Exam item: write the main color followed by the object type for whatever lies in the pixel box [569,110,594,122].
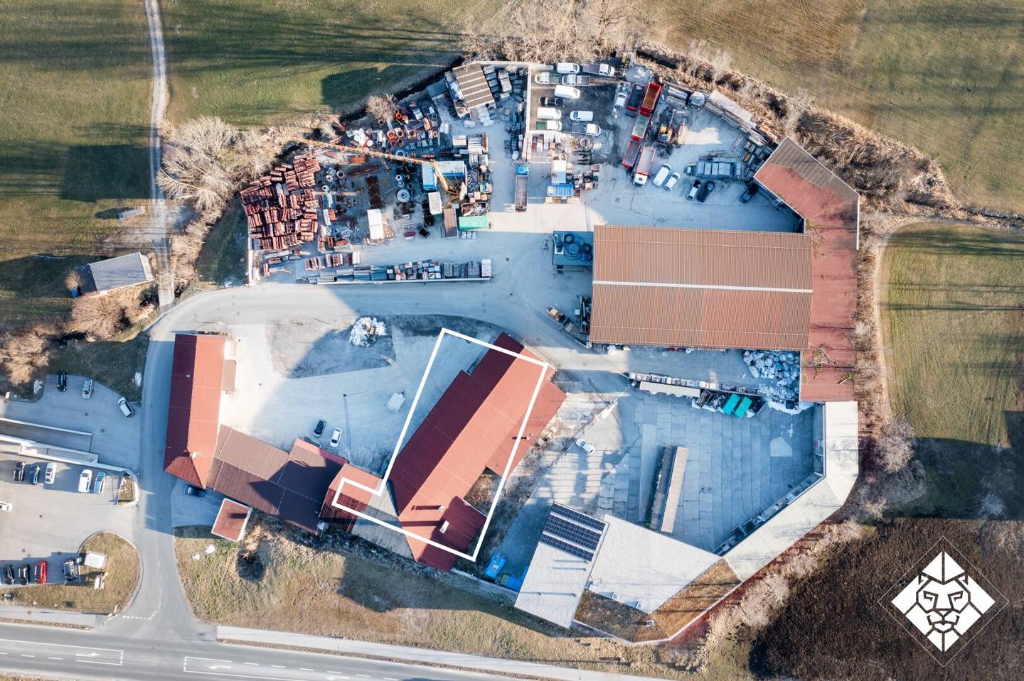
white vehicle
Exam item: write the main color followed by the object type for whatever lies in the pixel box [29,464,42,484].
blue vehicle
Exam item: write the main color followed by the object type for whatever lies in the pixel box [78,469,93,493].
white vehicle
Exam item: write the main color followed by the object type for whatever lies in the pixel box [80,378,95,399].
blue car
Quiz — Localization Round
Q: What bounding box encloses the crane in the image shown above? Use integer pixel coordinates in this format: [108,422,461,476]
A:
[305,137,471,203]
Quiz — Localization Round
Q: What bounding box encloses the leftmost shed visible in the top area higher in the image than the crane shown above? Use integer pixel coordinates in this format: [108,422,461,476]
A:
[445,61,496,122]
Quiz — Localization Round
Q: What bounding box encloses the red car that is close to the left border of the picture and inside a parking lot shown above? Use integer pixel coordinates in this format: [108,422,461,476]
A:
[34,562,48,584]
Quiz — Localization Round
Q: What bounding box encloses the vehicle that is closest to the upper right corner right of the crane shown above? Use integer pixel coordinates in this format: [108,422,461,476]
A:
[738,185,757,204]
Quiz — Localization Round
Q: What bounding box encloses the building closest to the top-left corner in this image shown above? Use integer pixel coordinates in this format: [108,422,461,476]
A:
[76,252,160,294]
